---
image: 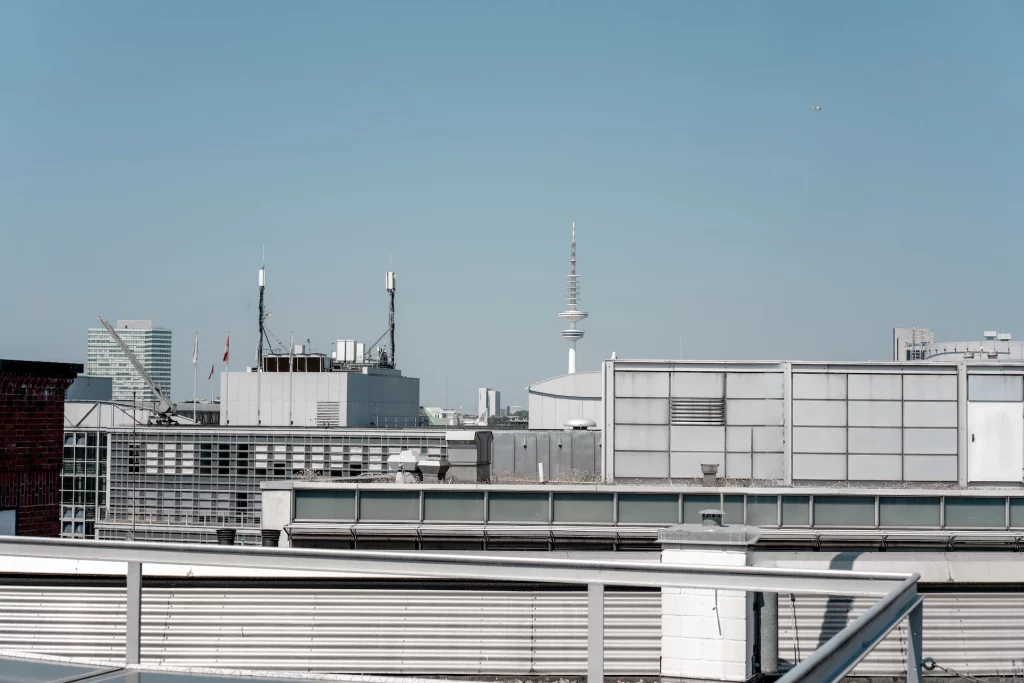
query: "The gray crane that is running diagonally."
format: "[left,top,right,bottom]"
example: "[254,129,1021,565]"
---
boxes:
[97,318,179,427]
